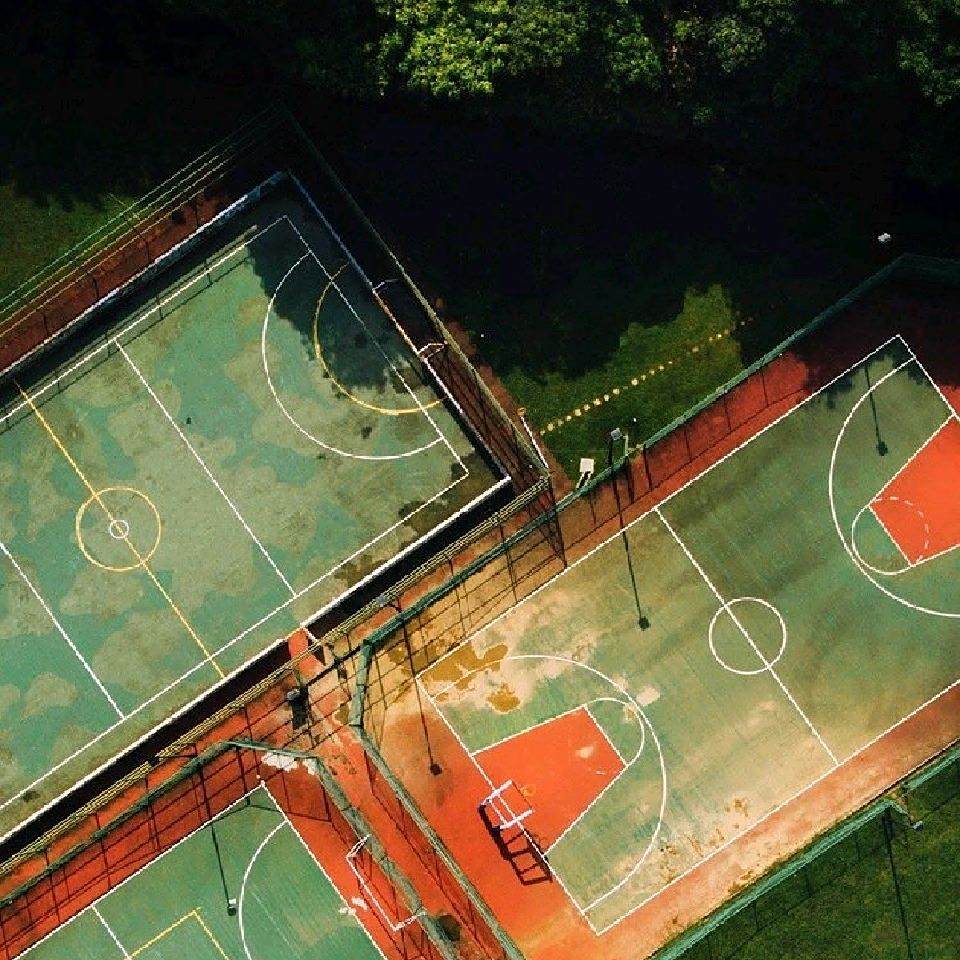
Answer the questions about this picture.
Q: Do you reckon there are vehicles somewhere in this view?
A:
No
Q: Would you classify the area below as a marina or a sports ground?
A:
sports ground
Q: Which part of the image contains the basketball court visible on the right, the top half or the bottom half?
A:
bottom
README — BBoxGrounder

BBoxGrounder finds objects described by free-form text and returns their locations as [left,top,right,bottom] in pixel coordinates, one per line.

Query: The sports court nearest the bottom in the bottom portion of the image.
[12,782,388,960]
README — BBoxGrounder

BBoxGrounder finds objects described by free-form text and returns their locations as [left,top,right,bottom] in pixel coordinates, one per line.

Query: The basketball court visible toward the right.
[419,336,960,935]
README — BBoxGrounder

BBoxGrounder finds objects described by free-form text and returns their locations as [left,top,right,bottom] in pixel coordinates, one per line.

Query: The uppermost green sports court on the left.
[0,175,503,834]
